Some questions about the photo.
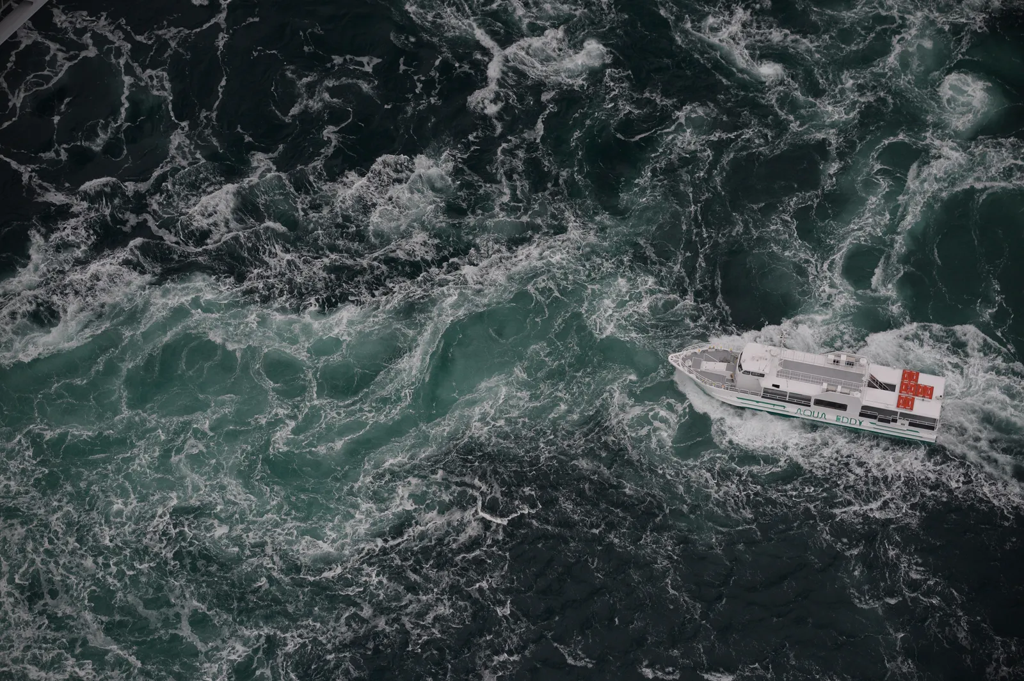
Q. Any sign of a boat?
Yes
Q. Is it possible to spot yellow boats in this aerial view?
No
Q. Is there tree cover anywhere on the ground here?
No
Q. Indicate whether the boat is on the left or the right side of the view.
right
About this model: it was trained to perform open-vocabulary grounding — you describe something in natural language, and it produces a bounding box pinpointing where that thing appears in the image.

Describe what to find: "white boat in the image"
[668,325,945,442]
